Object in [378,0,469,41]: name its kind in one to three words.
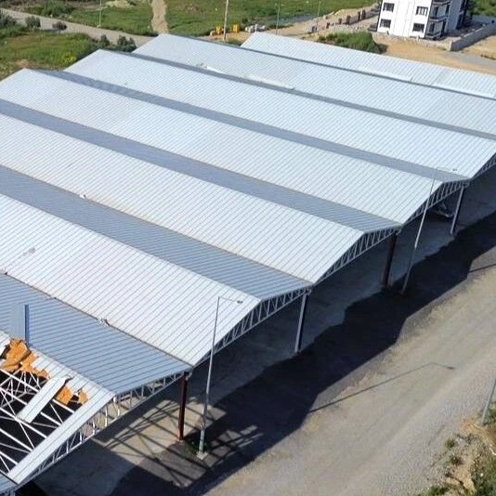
building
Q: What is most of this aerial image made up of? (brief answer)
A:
buildings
